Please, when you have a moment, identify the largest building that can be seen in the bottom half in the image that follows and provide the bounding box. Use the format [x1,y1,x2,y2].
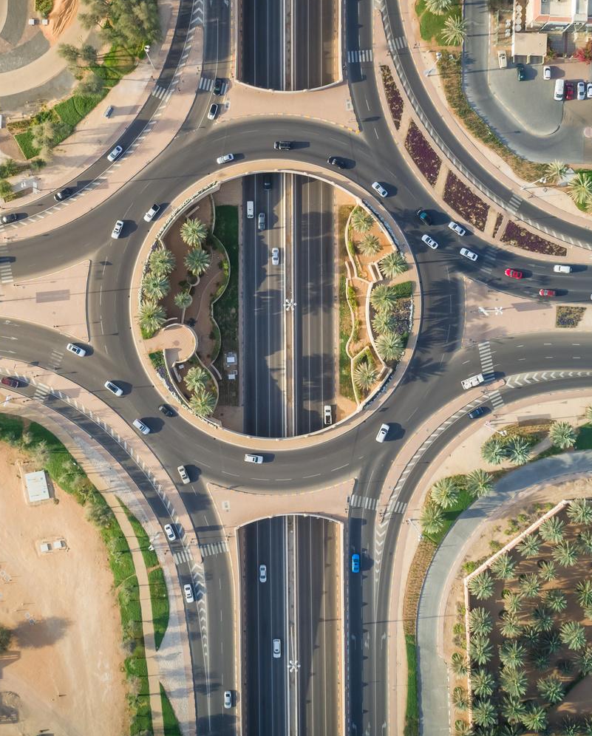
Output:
[25,468,52,503]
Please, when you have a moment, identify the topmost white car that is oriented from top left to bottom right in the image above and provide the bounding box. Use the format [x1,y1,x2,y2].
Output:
[371,182,387,198]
